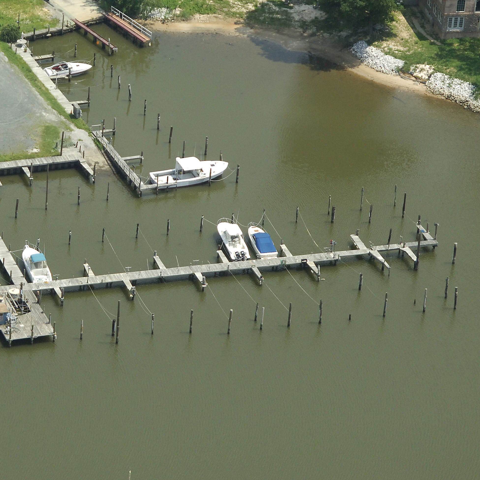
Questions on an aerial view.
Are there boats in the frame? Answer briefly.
Yes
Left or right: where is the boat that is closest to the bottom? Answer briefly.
left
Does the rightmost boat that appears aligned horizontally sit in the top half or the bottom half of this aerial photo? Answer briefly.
top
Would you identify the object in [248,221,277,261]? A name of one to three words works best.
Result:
boat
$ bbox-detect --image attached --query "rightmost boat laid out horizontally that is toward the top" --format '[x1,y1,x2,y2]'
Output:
[147,149,228,185]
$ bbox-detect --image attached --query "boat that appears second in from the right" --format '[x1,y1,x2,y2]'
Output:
[217,218,250,263]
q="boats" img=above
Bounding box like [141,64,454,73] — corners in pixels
[217,218,250,263]
[147,149,228,185]
[46,62,92,78]
[248,221,277,261]
[21,244,53,284]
